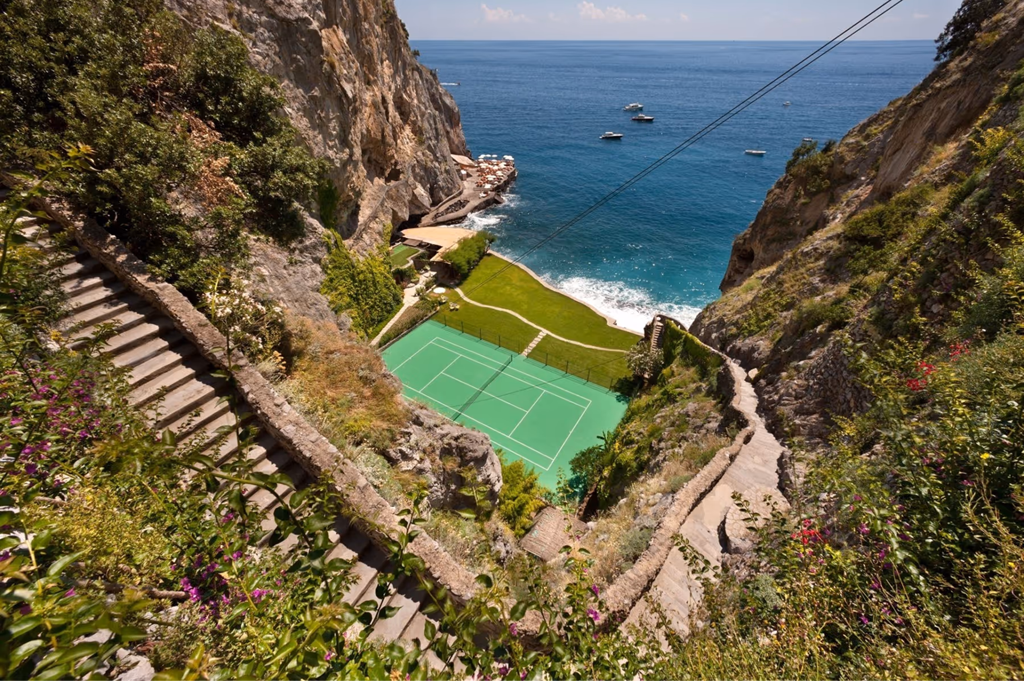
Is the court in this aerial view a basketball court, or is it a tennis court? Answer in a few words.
tennis court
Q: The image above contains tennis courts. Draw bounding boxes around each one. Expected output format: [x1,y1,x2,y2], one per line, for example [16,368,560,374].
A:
[378,320,630,515]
